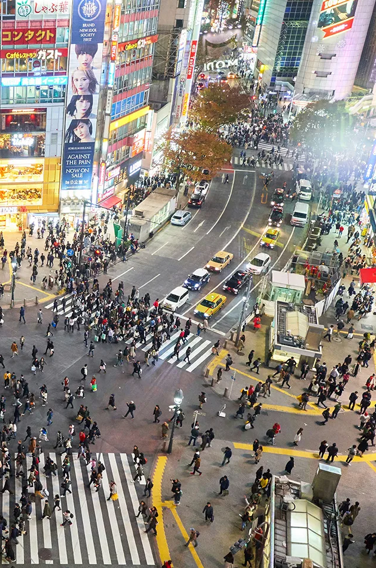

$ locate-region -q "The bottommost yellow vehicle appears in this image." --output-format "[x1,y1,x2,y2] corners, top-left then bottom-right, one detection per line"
[195,291,231,316]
